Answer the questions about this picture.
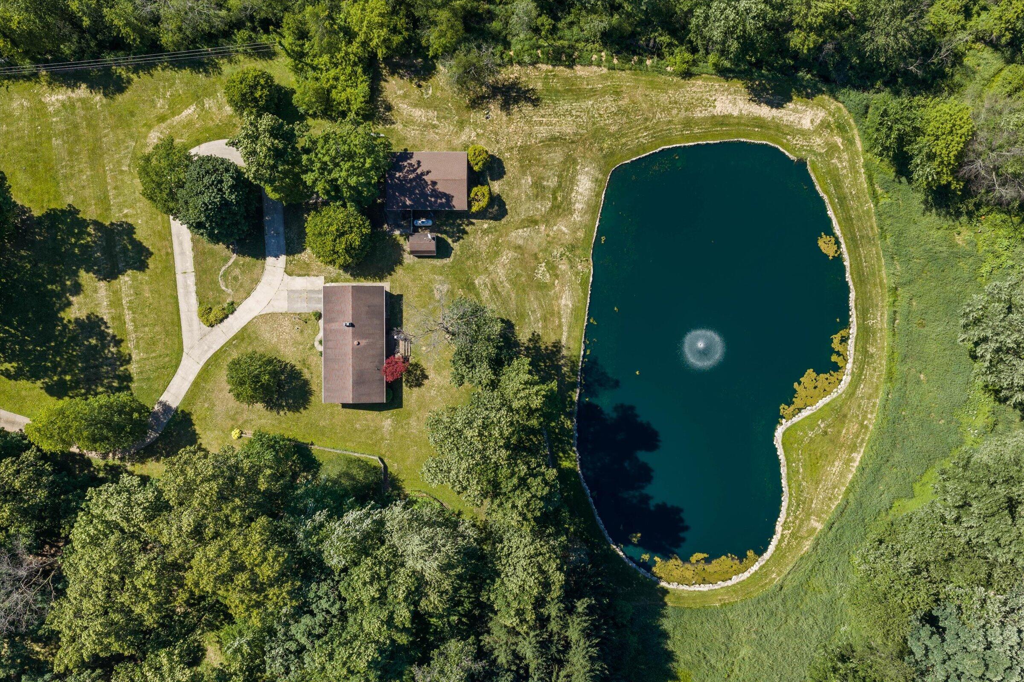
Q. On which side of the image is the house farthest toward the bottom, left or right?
left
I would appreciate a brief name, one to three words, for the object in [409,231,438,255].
shed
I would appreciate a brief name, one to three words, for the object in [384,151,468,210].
building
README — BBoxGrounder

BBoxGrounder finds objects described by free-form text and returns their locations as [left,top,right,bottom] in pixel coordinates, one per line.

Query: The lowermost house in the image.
[322,285,386,405]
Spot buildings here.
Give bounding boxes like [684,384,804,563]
[384,151,468,210]
[409,231,438,255]
[322,285,386,405]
